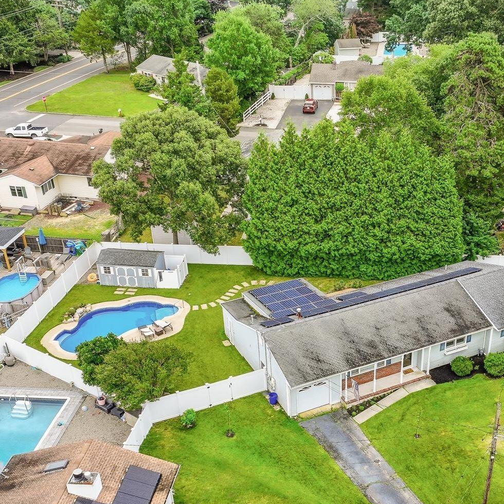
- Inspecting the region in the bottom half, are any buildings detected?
Yes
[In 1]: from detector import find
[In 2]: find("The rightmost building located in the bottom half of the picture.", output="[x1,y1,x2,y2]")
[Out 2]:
[220,261,504,418]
